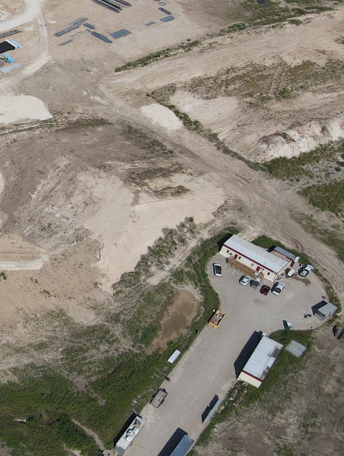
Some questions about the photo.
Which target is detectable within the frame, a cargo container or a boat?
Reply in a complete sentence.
The image shows a cargo container.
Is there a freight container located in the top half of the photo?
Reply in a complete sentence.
No, in the top half of the photo there is no freight container.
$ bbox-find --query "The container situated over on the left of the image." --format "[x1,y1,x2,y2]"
[116,415,149,455]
